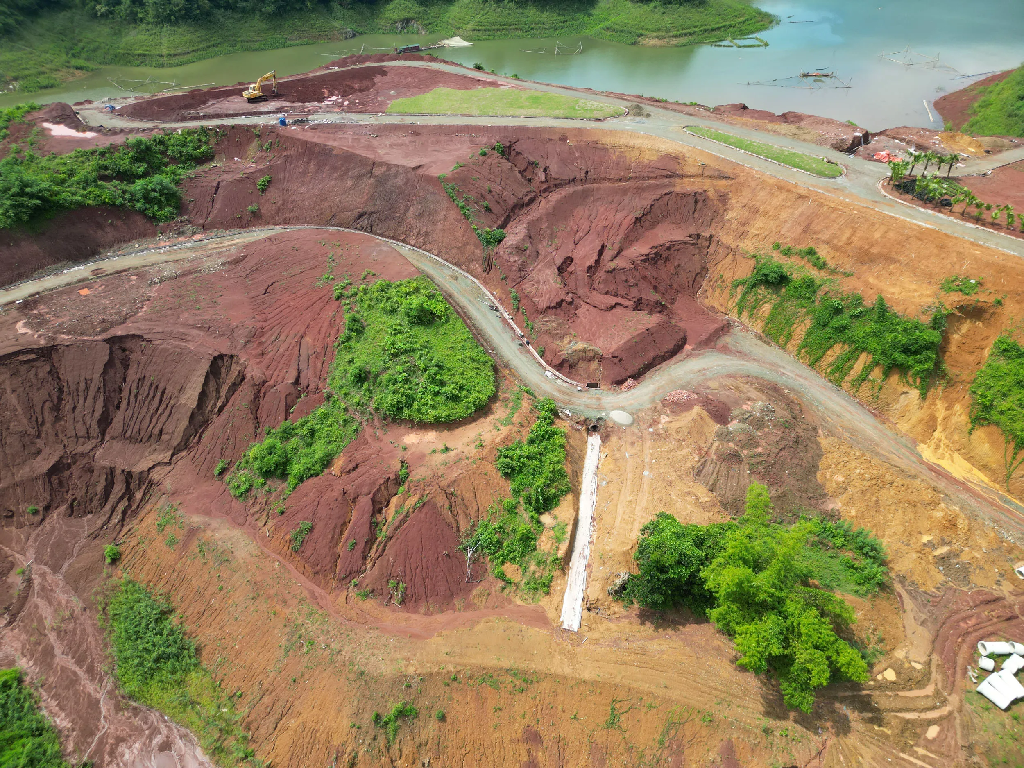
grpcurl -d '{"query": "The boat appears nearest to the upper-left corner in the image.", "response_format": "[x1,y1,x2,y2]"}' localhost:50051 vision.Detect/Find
[395,40,425,52]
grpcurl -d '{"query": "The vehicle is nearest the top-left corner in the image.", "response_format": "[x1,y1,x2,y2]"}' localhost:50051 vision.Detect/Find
[240,64,283,105]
